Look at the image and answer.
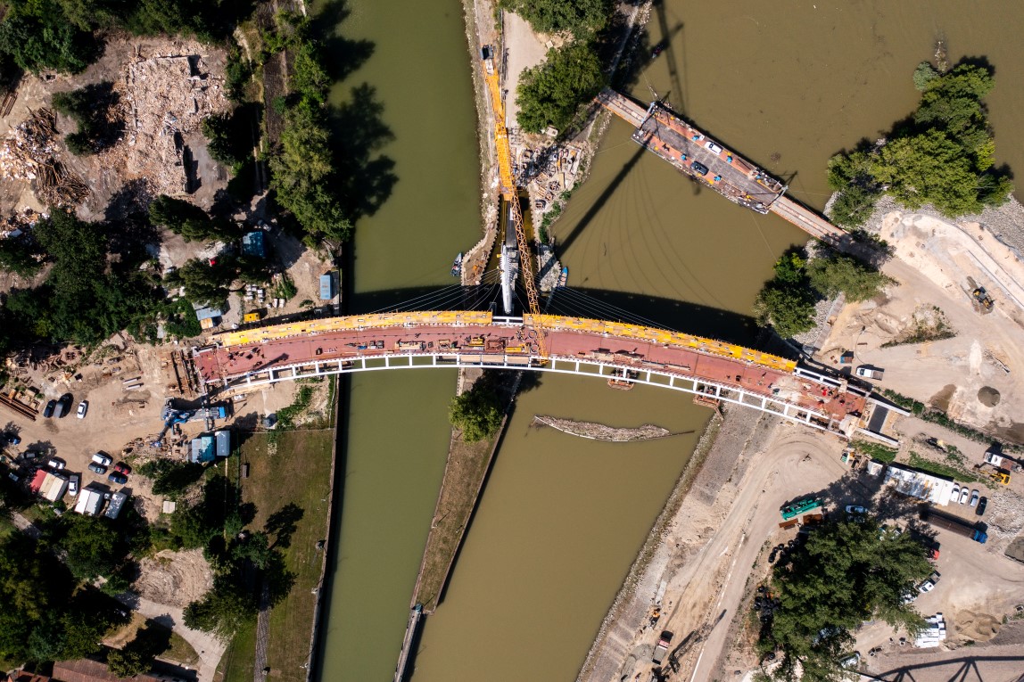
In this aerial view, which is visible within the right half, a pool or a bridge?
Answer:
bridge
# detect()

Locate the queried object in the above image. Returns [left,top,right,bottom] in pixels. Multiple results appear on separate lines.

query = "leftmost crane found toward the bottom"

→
[154,395,225,447]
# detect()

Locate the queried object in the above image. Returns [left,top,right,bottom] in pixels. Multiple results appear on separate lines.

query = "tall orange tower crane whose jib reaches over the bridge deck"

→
[479,42,547,359]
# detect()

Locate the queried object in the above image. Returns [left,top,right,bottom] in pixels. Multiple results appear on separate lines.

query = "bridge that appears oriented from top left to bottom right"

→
[595,86,839,239]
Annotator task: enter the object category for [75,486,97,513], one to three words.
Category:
building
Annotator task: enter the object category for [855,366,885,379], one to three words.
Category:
vehicle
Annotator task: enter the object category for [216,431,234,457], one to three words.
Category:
building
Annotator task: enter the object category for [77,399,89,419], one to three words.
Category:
vehicle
